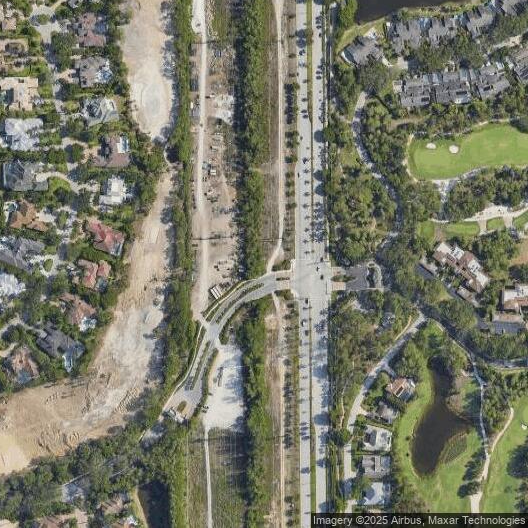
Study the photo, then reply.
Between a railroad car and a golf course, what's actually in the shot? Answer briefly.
golf course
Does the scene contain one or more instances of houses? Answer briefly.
Yes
